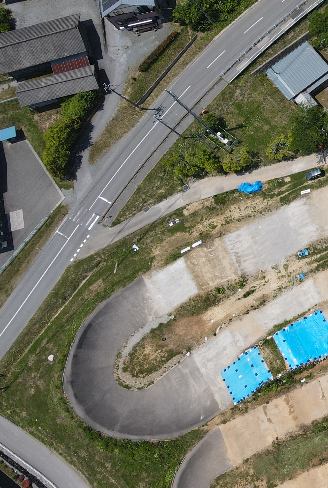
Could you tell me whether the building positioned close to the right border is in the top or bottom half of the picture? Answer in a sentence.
Seen from above, the building positioned close to the right border lies in the top half of the view.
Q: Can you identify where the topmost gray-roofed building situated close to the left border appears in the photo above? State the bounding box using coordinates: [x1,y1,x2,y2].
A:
[0,13,94,82]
